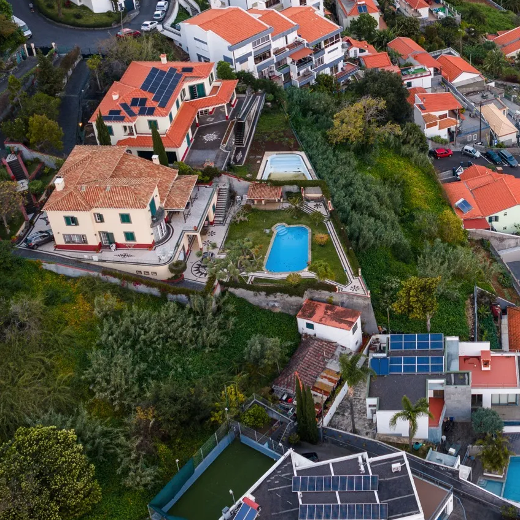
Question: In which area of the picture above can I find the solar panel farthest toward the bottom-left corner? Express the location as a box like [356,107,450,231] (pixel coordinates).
[234,501,260,520]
